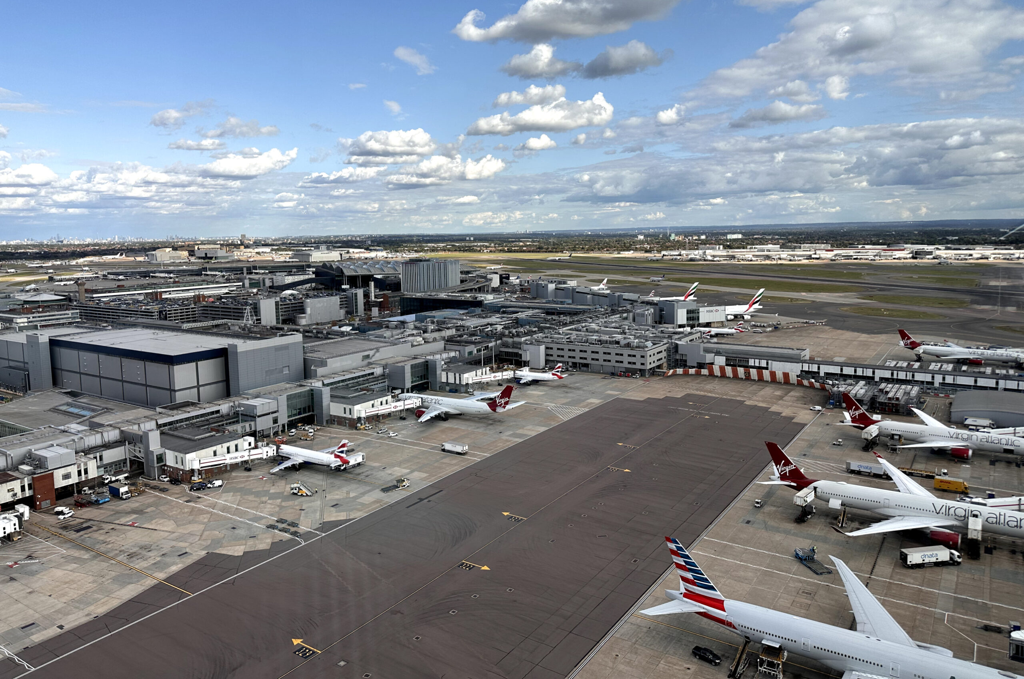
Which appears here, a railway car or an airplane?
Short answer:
airplane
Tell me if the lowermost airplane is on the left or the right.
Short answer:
right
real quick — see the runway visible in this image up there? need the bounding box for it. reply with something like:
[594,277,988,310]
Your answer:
[512,257,1024,298]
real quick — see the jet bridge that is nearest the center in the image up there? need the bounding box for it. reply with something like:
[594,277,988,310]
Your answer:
[466,369,519,392]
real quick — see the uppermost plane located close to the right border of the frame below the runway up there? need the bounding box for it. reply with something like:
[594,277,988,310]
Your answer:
[889,328,1024,364]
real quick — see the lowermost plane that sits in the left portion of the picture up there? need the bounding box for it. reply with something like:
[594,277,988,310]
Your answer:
[277,442,362,471]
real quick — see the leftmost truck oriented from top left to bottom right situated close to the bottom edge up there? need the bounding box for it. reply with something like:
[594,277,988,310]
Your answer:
[692,646,721,668]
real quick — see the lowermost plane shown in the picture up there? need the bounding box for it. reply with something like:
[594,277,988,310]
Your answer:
[652,538,1024,679]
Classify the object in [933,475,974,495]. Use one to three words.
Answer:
vehicle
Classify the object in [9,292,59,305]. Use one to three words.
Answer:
building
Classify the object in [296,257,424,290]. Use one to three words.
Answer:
building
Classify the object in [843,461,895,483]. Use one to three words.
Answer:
truck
